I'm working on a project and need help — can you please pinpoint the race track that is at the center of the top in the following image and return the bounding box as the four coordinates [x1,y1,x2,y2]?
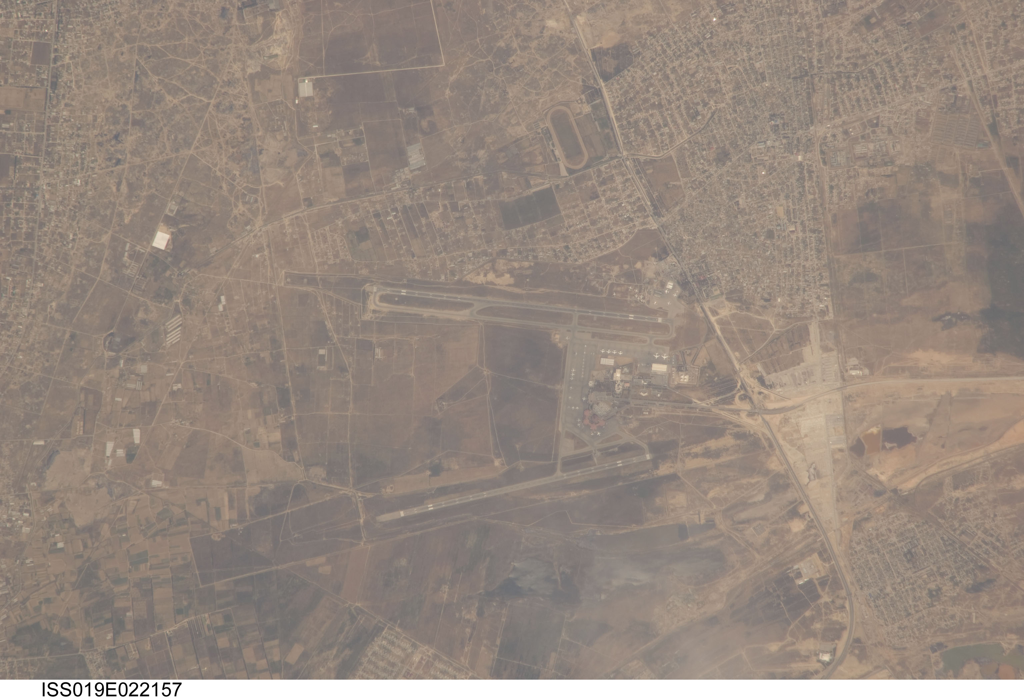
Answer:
[547,106,589,169]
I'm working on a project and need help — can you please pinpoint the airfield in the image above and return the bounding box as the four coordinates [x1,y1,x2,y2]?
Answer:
[366,254,684,522]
